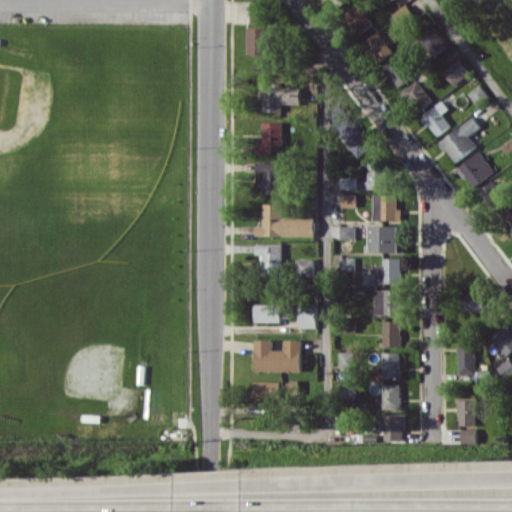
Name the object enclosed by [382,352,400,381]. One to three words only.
house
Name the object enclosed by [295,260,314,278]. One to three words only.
building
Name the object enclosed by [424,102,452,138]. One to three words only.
house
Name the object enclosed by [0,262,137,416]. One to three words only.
baseball field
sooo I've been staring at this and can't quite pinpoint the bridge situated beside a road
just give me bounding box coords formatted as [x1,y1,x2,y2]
[172,470,240,512]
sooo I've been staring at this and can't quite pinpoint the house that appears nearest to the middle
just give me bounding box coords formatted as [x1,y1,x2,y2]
[254,244,282,271]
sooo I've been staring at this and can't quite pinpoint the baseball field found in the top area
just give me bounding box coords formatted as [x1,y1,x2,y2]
[0,26,180,288]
